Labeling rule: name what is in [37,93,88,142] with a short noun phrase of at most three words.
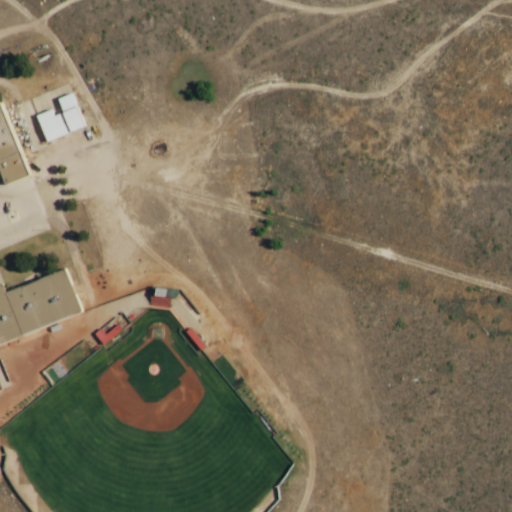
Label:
shed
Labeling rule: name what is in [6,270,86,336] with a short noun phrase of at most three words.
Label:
building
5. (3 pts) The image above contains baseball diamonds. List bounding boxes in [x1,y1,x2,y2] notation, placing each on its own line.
[0,310,292,512]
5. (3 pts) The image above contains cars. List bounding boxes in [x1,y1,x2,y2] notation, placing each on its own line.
[4,204,8,213]
[31,163,40,171]
[86,128,92,137]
